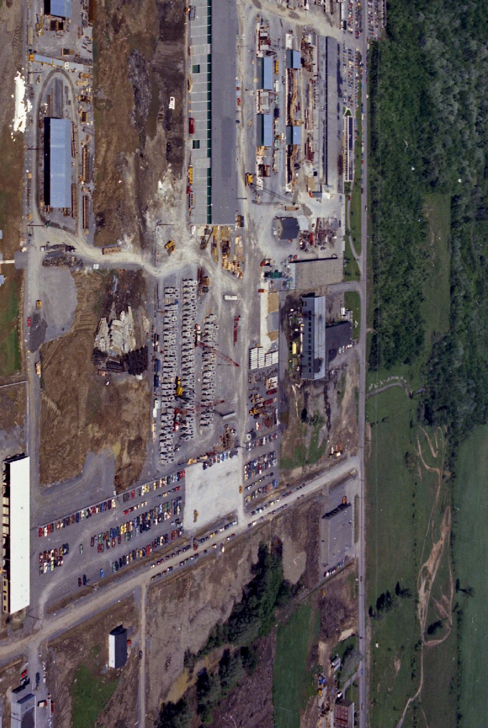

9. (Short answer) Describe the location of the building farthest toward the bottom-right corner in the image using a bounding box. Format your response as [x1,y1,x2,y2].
[338,699,355,728]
